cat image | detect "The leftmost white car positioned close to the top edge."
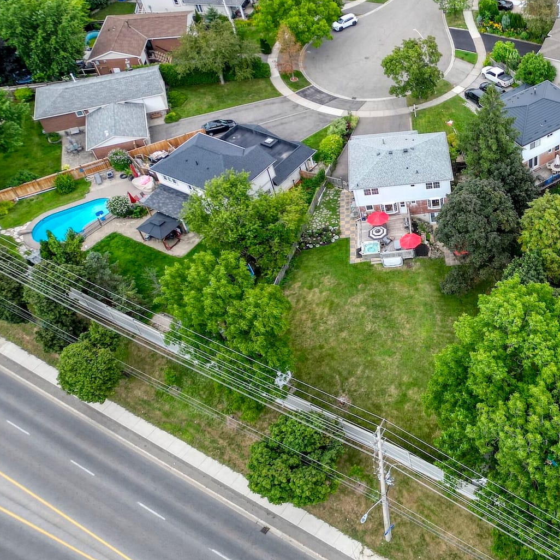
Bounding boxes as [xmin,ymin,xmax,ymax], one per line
[333,12,358,31]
